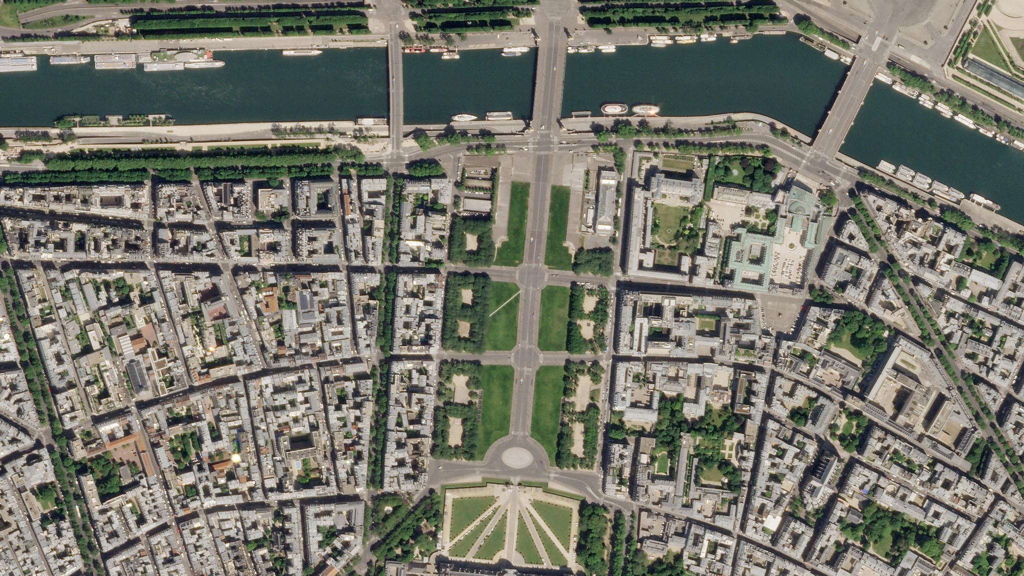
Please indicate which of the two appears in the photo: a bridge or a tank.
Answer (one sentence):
I can see a bridge in this picture.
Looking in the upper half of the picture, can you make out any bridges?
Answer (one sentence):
Yes, you'll find a bridge in the upper half of the picture.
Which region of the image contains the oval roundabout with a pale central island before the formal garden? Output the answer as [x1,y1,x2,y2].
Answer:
[484,437,550,483]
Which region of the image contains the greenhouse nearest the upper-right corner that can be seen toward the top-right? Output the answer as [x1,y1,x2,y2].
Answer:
[963,58,1024,97]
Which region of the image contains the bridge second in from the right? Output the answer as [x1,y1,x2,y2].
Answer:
[533,29,567,132]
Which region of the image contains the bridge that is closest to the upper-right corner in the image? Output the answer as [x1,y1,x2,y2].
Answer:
[812,53,881,156]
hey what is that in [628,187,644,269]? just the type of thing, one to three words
building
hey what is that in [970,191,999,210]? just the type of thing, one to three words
boat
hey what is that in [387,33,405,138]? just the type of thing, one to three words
bridge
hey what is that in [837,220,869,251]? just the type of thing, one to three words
house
